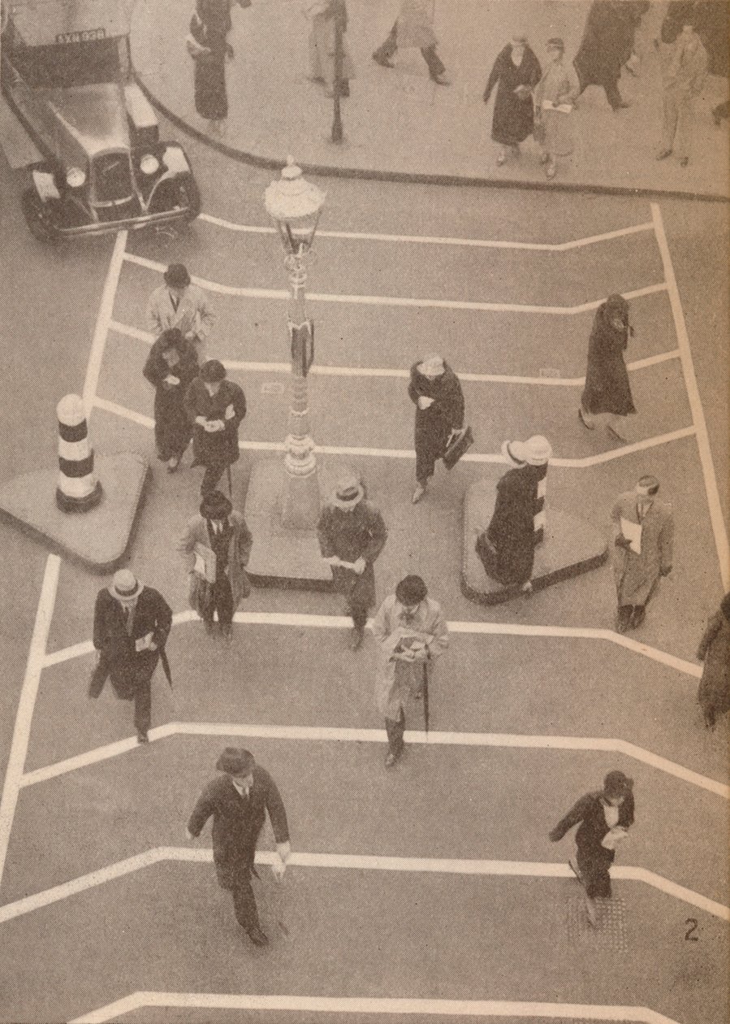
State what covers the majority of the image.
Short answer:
paved ground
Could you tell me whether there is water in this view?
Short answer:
No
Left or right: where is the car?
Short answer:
left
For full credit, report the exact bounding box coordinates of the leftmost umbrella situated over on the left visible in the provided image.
[154,641,173,693]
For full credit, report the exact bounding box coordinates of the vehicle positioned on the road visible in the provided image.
[0,0,201,249]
